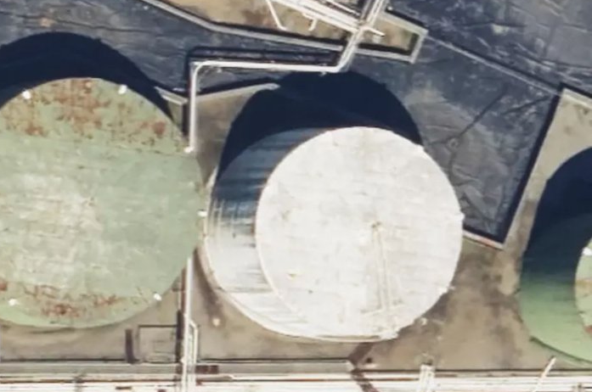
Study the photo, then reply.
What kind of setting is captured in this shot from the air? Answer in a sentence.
What you see here is an industrial area.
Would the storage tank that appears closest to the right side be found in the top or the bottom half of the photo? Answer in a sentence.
You can find the storage tank that appears closest to the right side in the bottom half.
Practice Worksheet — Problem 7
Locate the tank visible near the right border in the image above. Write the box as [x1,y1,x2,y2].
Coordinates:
[515,203,592,368]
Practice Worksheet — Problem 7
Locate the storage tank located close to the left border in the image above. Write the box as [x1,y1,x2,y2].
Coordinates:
[0,78,207,328]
